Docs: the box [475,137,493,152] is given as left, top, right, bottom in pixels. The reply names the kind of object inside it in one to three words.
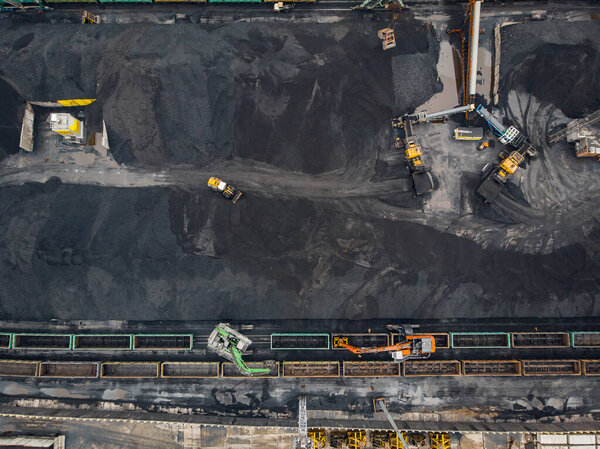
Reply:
work vehicle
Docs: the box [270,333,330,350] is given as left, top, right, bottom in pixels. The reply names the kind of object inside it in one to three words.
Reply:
rail car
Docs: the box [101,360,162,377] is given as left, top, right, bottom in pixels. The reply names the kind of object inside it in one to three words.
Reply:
rail car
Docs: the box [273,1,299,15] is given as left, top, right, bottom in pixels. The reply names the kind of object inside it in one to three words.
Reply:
vehicle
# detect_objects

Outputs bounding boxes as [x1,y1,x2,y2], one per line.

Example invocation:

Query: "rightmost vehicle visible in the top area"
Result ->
[547,107,600,161]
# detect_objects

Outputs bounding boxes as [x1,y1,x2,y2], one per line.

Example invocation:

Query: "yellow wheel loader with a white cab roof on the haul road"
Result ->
[205,177,242,208]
